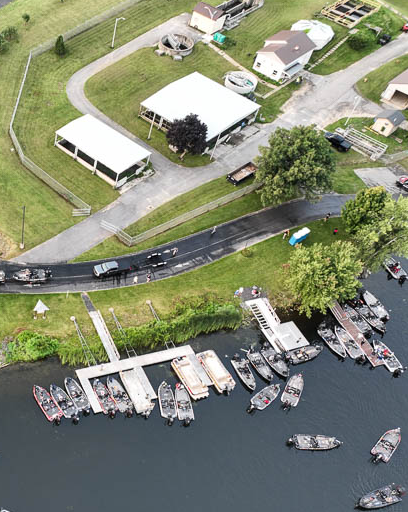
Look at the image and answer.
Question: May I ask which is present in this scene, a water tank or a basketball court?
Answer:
water tank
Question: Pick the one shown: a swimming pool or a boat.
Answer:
boat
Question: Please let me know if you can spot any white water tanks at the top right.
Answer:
Yes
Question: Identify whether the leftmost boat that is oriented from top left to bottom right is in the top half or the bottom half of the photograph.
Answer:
bottom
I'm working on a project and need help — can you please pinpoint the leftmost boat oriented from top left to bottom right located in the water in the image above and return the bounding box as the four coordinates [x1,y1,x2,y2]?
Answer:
[33,385,61,426]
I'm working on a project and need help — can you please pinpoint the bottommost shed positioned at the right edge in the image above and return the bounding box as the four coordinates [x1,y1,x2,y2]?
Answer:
[372,109,408,137]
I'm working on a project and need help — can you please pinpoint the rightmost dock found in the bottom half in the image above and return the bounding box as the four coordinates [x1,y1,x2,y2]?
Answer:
[330,301,385,368]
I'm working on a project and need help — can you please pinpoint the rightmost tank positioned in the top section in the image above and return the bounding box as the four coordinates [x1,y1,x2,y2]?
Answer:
[294,21,340,53]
